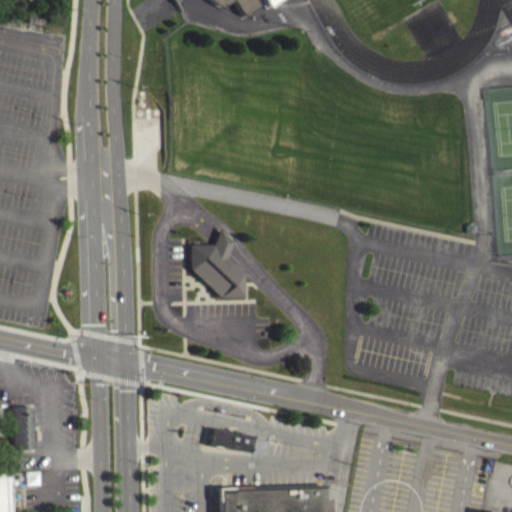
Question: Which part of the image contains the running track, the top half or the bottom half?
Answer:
top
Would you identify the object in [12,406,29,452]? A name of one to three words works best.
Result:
building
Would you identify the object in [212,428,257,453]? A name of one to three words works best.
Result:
building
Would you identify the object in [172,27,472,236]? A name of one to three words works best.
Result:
sports field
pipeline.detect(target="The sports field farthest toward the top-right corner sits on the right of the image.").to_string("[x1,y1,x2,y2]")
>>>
[336,0,477,61]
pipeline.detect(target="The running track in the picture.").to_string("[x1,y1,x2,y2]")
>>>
[308,0,501,85]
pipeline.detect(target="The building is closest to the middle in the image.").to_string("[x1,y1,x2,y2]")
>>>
[192,230,246,299]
